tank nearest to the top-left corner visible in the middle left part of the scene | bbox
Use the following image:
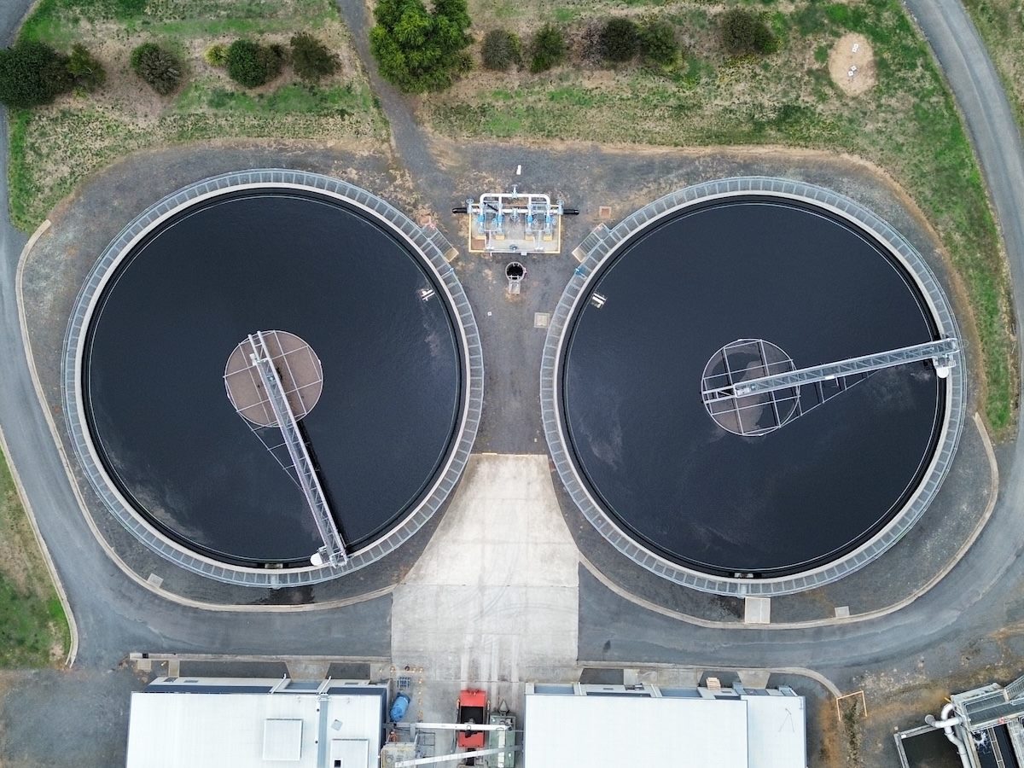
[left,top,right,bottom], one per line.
[60,168,481,589]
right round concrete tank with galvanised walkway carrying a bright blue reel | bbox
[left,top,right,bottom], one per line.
[544,175,967,599]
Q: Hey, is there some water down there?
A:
Yes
